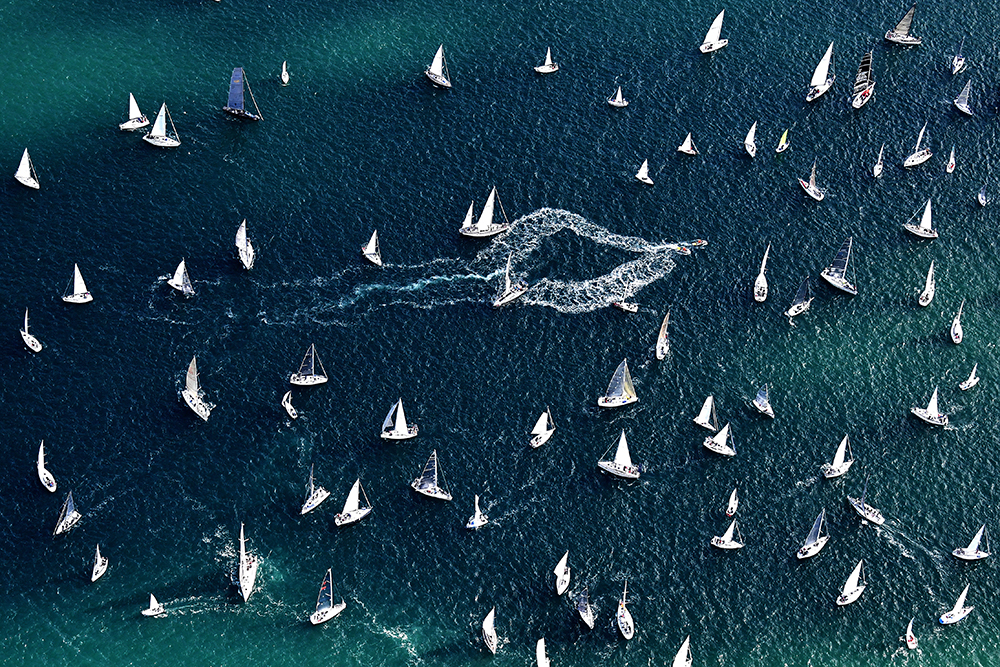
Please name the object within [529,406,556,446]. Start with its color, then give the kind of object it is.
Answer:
white boat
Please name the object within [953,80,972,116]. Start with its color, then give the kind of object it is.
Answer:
white boat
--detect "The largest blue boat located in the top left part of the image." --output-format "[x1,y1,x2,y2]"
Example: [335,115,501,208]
[222,65,263,123]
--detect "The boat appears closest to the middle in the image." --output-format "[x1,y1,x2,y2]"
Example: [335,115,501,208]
[493,254,534,309]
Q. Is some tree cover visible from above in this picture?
No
